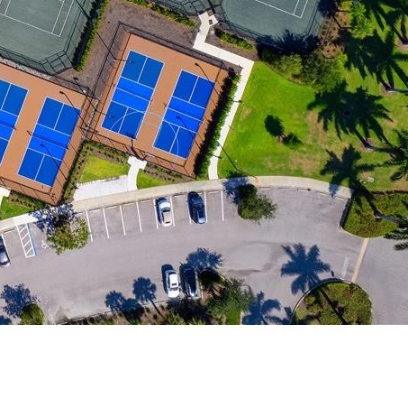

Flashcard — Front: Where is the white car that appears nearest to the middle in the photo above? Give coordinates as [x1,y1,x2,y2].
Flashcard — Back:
[157,198,173,228]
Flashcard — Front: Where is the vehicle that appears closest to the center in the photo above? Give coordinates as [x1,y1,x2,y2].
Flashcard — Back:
[188,193,206,224]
